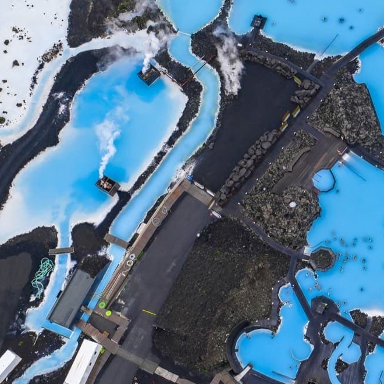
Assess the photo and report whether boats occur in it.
No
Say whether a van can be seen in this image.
No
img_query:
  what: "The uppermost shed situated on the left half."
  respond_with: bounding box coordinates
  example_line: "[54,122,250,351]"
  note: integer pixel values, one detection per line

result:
[47,268,99,331]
